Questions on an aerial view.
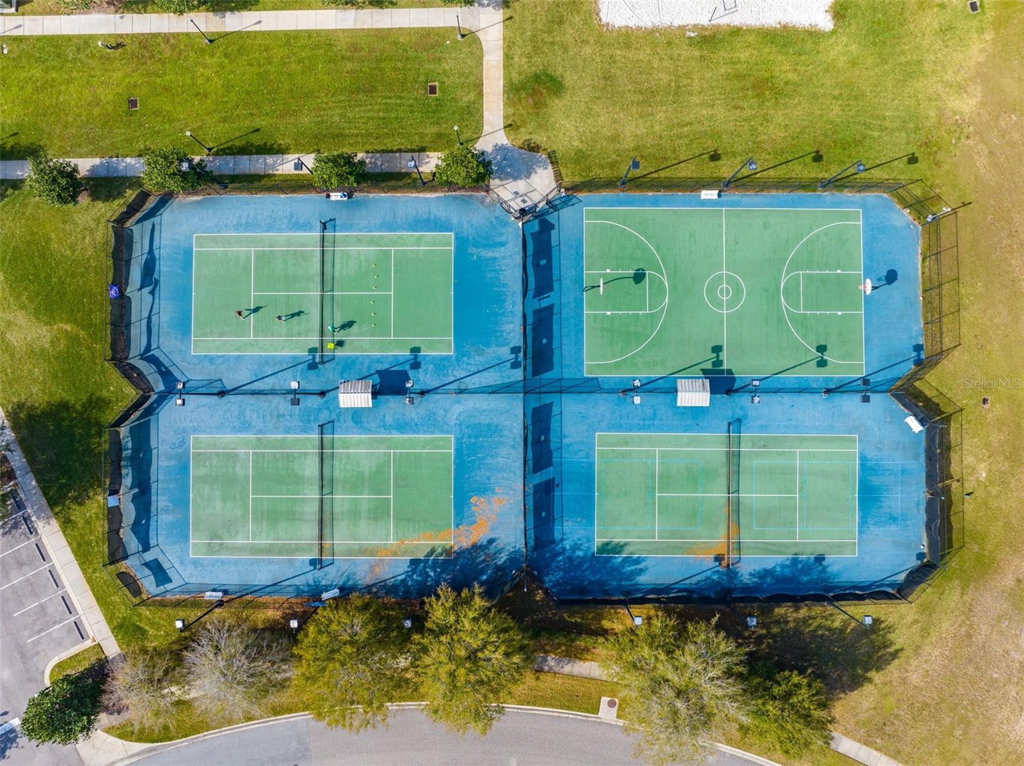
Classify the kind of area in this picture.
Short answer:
sports ground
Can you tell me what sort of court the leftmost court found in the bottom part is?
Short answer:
tennis court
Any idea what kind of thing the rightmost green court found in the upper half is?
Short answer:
basketball court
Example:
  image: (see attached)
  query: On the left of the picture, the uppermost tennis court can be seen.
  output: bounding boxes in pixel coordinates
[125,193,524,393]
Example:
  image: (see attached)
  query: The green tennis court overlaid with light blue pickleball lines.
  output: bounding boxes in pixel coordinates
[524,393,928,599]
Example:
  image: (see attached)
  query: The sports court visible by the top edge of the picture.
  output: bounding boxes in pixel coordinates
[600,0,834,31]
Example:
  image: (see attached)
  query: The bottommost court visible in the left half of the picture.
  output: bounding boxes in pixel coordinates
[121,393,524,599]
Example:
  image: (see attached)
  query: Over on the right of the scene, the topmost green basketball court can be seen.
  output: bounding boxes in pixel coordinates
[523,193,924,392]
